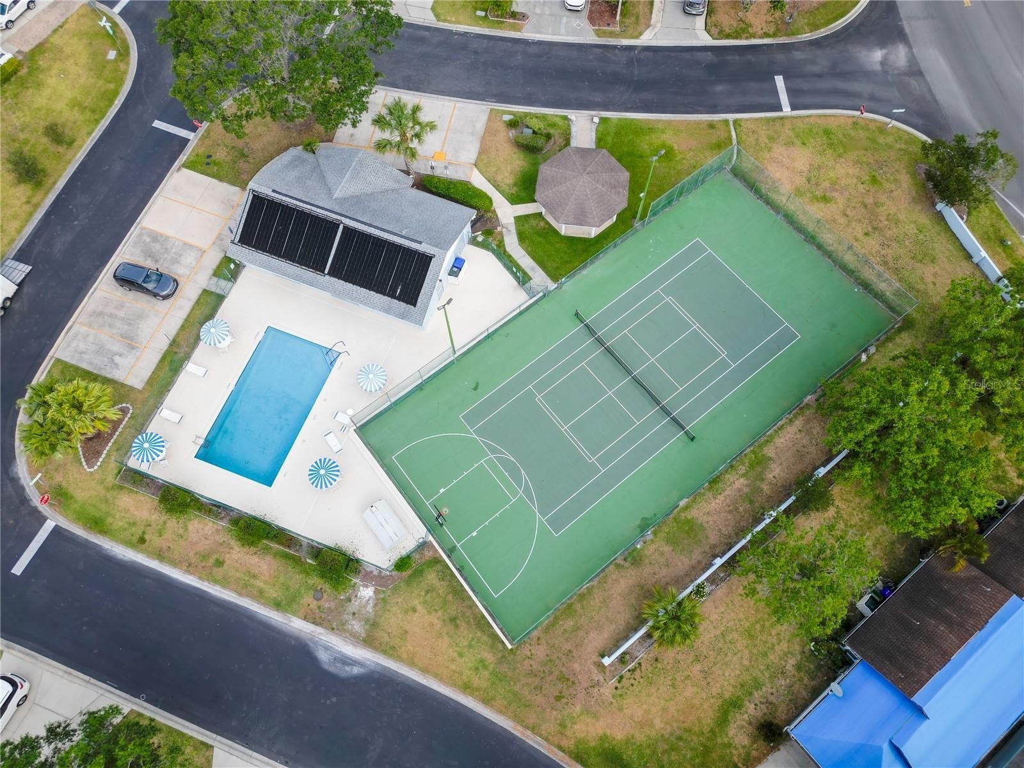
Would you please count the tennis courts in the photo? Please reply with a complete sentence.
There is 1 tennis court in the image.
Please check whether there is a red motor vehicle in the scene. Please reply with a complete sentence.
No, I can see no red motor vehicle in this picture.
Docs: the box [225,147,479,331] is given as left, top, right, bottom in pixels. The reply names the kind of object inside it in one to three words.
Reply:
building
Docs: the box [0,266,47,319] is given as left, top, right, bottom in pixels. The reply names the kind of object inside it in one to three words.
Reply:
trailer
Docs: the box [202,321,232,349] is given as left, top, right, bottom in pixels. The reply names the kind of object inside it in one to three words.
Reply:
umbrella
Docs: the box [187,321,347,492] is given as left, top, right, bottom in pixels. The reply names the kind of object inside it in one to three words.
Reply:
swimming pool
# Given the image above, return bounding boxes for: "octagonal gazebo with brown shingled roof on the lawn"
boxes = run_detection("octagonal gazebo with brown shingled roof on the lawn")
[535,148,629,238]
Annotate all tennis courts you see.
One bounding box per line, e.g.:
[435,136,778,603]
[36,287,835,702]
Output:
[359,166,901,647]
